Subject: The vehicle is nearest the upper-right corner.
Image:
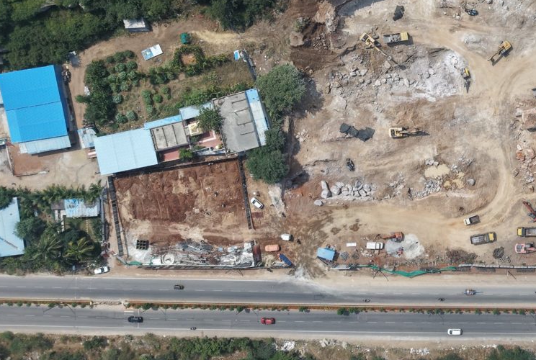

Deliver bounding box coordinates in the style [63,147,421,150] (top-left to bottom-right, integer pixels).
[488,40,510,64]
